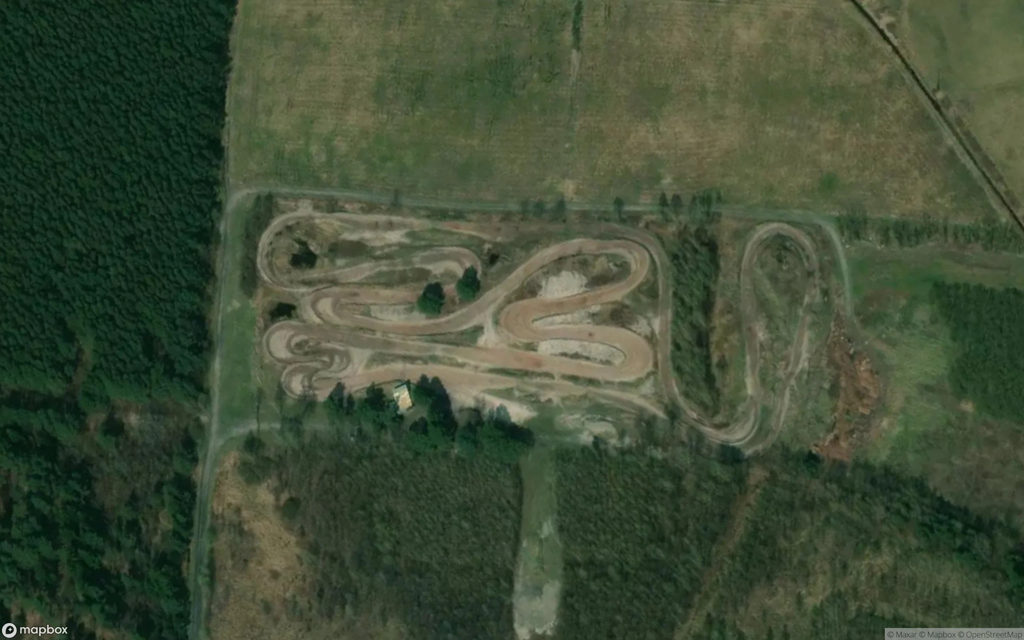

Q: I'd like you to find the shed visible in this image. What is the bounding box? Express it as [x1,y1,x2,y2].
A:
[394,384,413,409]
